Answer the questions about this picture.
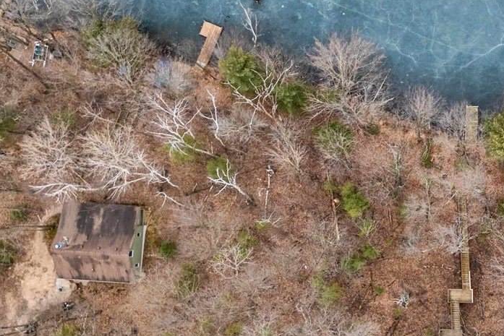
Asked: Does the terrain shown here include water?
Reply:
Yes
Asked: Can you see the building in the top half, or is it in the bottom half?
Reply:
bottom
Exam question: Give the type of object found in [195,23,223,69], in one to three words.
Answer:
pier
